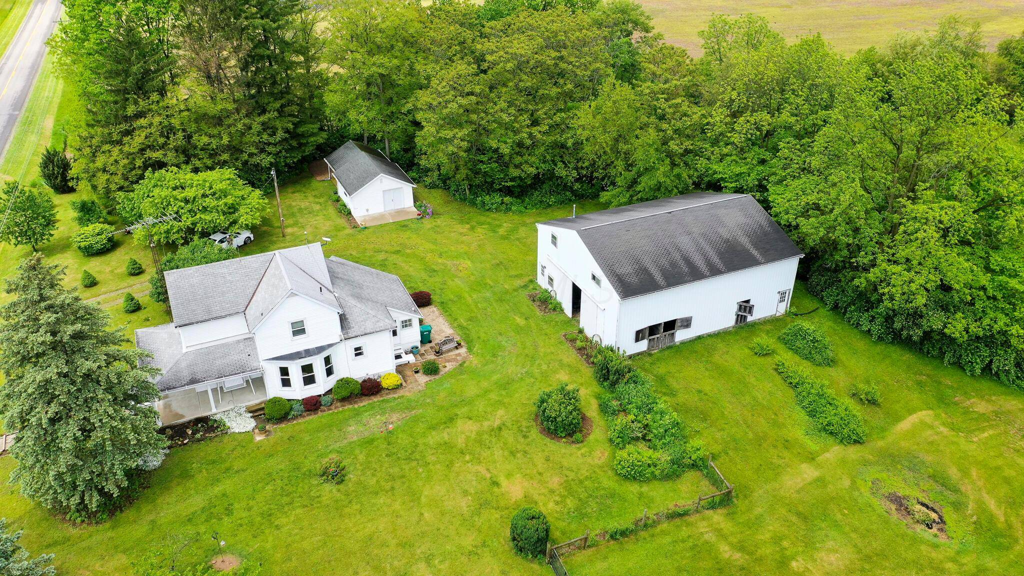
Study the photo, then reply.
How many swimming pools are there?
0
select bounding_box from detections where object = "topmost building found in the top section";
[323,140,417,216]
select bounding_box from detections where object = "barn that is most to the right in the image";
[535,190,808,356]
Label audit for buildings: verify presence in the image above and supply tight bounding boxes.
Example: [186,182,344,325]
[134,242,425,430]
[323,140,417,216]
[535,190,808,356]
